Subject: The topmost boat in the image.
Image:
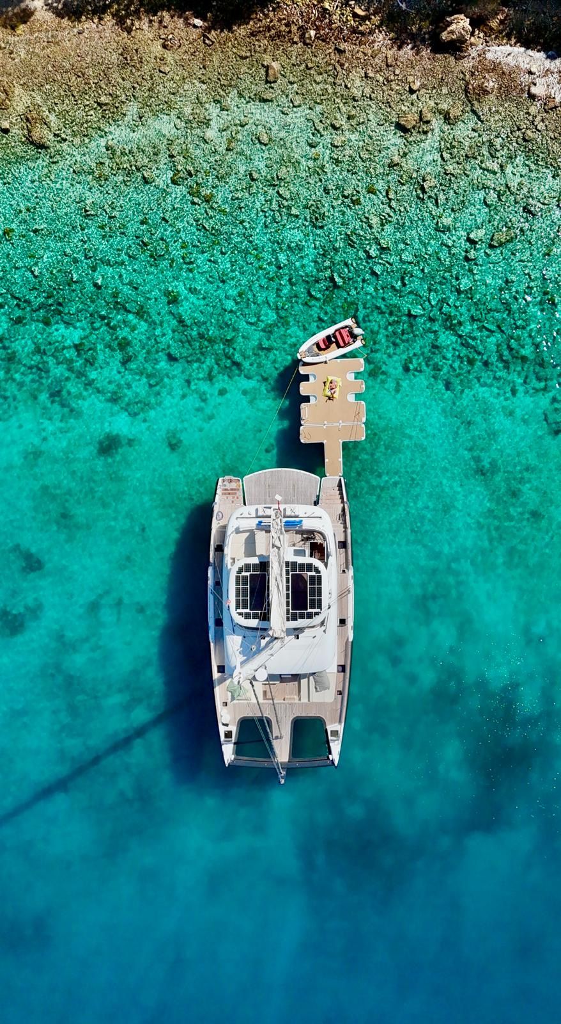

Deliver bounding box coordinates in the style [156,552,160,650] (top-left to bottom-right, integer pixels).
[295,319,366,363]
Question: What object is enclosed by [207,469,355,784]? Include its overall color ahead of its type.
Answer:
white boat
